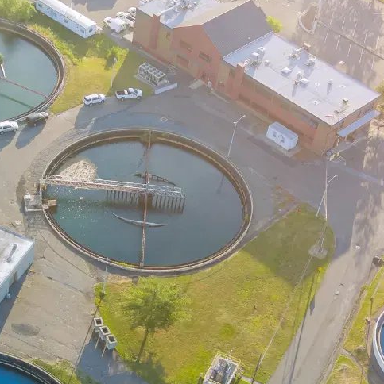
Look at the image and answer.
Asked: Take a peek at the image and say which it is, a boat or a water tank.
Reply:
water tank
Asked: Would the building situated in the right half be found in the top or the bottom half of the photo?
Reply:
top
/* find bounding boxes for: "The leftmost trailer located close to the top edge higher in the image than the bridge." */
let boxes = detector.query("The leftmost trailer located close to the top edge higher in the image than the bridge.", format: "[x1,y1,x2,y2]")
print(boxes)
[23,0,98,36]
